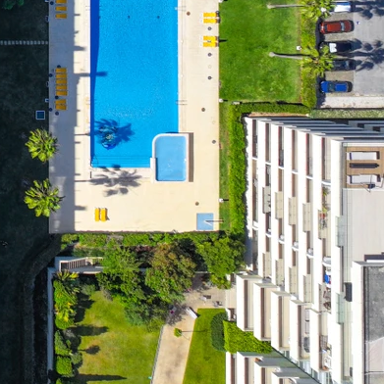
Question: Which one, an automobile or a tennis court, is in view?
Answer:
automobile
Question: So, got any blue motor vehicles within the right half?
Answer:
Yes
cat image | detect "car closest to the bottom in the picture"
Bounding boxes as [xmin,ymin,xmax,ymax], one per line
[317,78,351,94]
